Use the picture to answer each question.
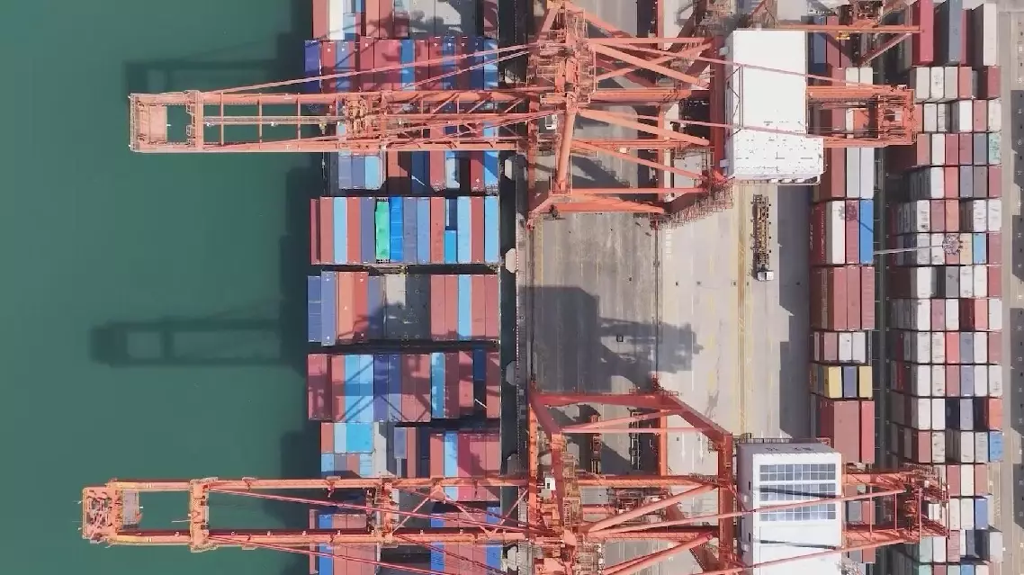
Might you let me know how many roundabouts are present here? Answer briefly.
0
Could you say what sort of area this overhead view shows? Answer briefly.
port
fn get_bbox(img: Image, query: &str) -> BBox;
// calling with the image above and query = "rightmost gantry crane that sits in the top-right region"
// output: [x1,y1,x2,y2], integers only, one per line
[747,0,929,65]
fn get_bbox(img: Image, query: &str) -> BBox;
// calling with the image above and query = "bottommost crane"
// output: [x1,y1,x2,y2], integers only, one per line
[77,374,952,575]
